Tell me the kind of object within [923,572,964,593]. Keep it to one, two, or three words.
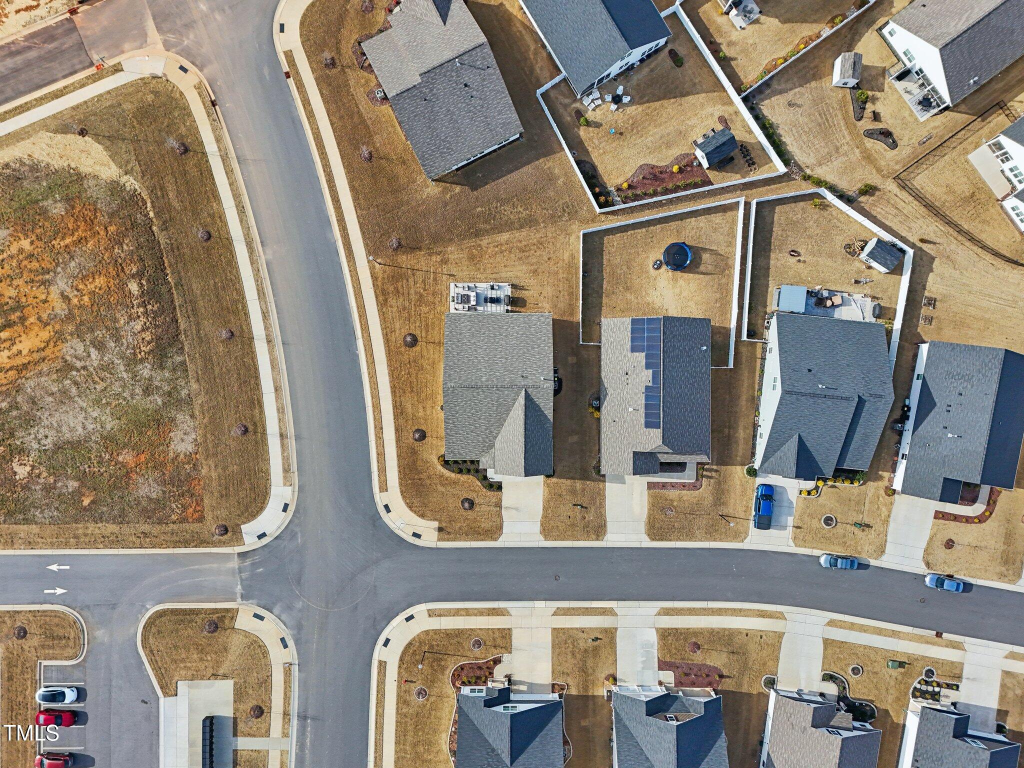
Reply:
car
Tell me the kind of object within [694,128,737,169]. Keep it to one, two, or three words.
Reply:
shed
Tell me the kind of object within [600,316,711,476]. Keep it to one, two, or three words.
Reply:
house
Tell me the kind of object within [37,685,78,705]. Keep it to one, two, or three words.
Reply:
car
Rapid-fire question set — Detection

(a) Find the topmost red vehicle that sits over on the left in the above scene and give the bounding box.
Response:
[37,708,78,729]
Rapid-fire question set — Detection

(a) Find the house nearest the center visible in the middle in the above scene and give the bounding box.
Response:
[442,313,554,477]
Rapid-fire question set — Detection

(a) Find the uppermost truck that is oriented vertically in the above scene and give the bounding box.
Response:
[752,483,775,531]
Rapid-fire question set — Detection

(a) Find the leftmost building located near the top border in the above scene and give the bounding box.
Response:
[361,0,524,180]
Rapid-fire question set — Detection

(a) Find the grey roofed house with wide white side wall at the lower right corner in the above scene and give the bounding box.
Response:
[901,699,1021,768]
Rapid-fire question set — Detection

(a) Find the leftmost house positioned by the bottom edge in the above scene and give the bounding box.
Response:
[456,679,564,768]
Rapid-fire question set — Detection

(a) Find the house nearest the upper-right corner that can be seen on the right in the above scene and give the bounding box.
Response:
[882,0,1024,109]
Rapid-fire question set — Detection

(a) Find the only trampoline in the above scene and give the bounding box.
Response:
[662,241,693,271]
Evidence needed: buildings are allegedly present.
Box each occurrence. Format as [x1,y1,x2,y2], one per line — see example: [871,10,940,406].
[860,238,903,272]
[893,341,1024,504]
[442,313,554,477]
[882,0,1024,109]
[987,114,1024,232]
[754,312,894,481]
[361,0,524,180]
[901,699,1021,768]
[833,52,863,87]
[456,679,564,768]
[759,687,882,768]
[612,683,729,768]
[694,128,737,169]
[600,316,711,476]
[520,0,672,100]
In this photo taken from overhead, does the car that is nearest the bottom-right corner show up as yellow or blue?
blue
